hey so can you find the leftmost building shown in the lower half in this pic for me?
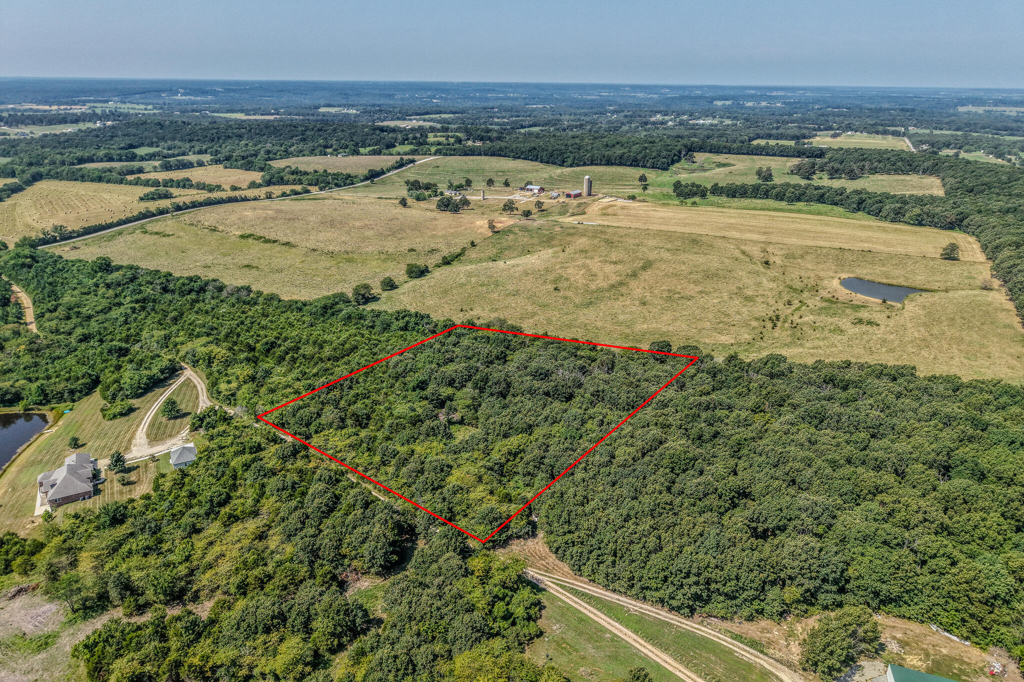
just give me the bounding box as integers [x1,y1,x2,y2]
[37,452,97,509]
